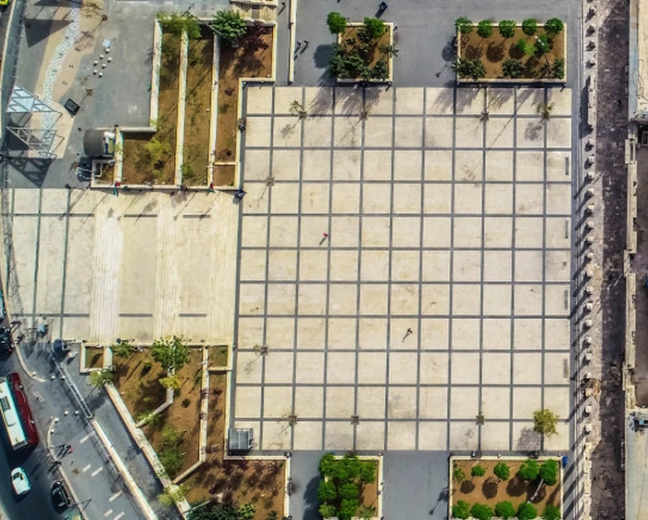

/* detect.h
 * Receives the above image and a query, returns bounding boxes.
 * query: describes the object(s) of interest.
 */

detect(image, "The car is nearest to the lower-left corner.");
[13,467,32,495]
